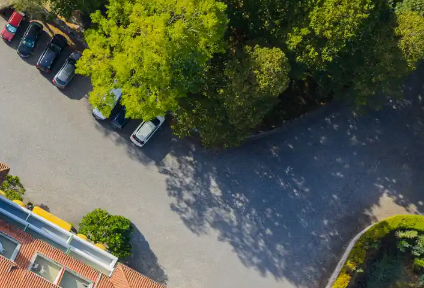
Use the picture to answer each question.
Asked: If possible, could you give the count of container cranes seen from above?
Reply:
none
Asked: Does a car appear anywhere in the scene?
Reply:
Yes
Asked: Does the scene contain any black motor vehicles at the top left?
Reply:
Yes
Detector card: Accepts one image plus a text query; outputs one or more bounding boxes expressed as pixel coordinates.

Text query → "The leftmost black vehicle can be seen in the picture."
[13,14,47,60]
